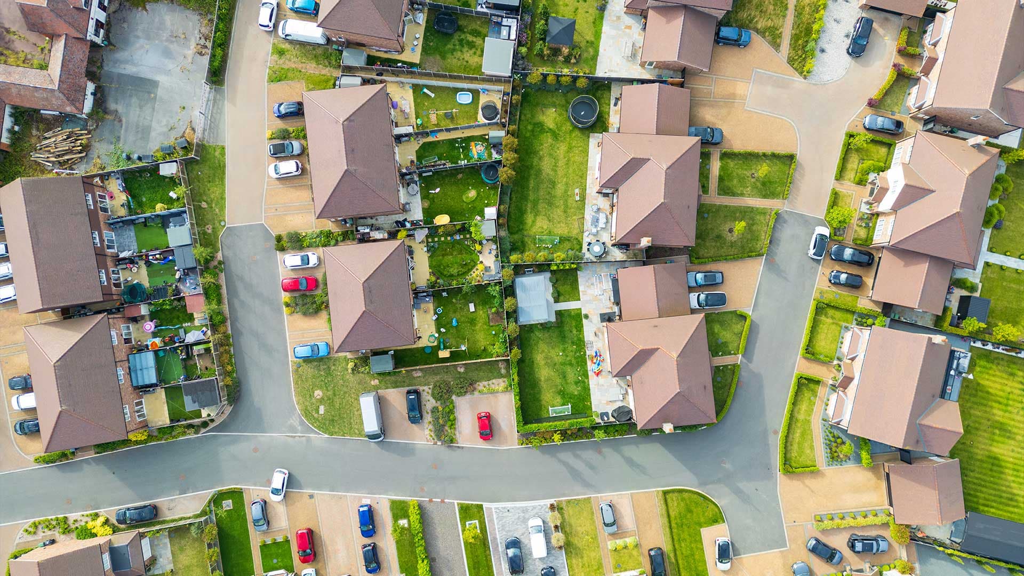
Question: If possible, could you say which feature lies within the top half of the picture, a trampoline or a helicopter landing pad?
trampoline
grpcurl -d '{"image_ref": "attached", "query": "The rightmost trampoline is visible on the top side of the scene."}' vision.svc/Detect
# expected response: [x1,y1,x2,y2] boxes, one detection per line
[570,94,600,126]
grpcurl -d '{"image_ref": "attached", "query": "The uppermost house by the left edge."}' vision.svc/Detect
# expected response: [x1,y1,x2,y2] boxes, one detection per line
[22,0,112,48]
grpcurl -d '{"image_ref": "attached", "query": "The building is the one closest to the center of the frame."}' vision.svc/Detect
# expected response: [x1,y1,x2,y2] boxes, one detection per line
[515,275,549,323]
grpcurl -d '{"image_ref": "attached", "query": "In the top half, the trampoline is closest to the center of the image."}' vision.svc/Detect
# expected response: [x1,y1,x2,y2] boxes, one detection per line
[481,161,500,181]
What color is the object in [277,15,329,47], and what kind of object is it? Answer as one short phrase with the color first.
white van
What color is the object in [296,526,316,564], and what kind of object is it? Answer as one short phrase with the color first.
red car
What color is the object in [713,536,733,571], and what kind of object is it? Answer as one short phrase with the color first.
white car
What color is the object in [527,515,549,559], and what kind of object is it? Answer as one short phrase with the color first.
white car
